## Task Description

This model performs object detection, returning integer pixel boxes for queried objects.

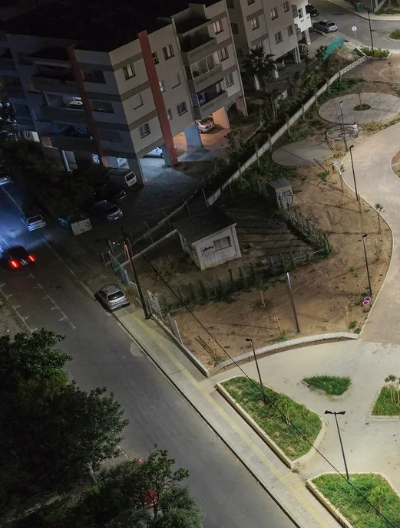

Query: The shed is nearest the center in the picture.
[169,207,240,271]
